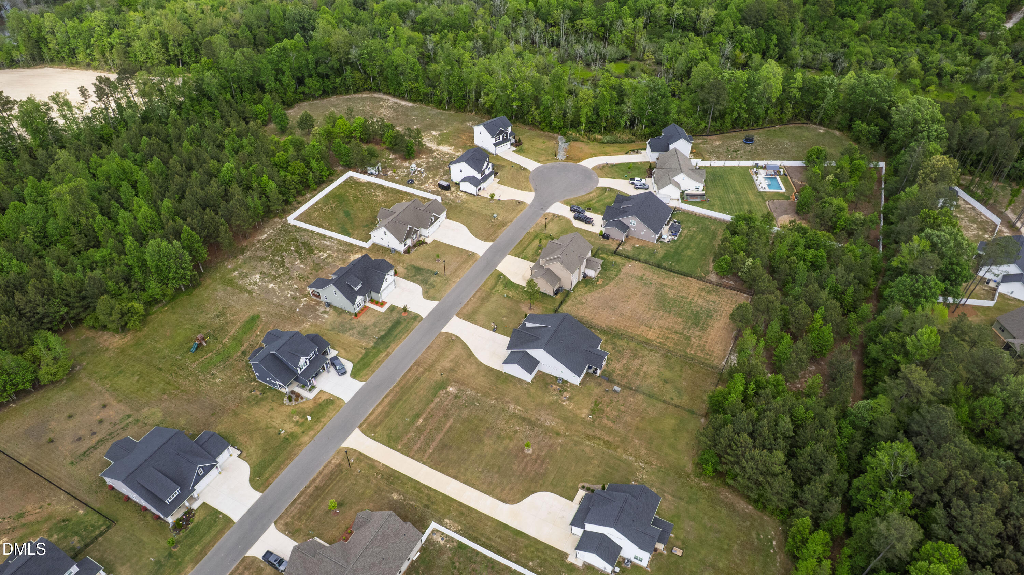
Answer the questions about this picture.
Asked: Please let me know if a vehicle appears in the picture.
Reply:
Yes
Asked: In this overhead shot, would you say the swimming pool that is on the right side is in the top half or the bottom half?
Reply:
top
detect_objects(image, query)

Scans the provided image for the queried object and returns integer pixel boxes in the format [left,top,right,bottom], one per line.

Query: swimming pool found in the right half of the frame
[750,169,786,192]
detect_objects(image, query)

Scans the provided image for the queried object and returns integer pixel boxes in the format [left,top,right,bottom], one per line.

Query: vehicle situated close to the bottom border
[259,547,288,573]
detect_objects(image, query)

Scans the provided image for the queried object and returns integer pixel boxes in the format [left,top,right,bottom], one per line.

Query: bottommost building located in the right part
[569,480,674,575]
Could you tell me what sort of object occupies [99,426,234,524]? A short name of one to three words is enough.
house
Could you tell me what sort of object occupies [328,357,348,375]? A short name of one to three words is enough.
vehicle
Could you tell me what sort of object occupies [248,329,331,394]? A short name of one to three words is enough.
house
